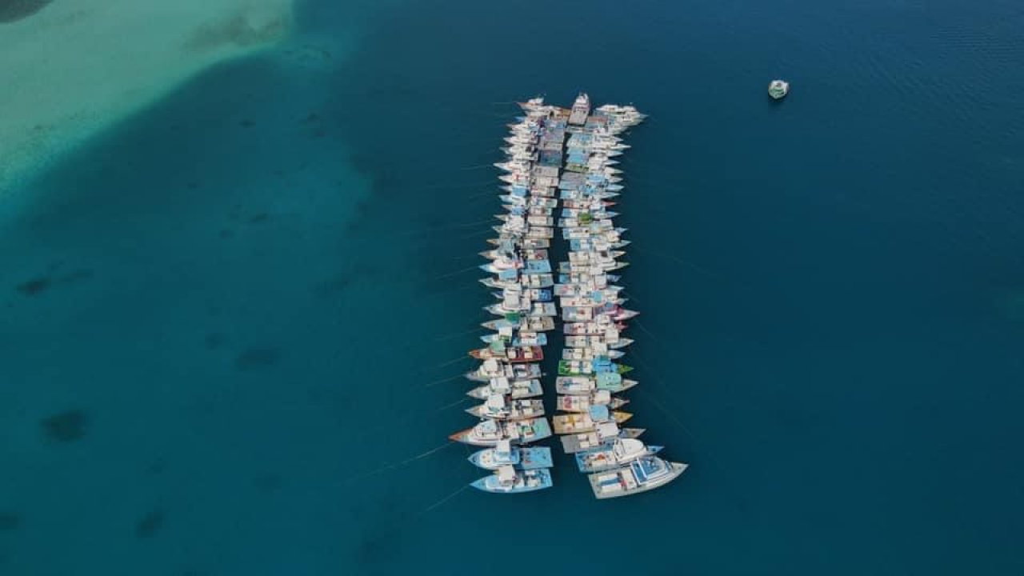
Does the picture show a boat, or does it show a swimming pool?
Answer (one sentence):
I can see a boat in this picture.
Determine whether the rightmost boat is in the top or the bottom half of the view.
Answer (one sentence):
You can find the rightmost boat in the top half.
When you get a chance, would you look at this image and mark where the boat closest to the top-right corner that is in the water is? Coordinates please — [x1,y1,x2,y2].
[768,76,788,103]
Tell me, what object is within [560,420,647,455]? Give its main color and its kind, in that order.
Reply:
white boat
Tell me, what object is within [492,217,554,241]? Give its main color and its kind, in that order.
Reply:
white boat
